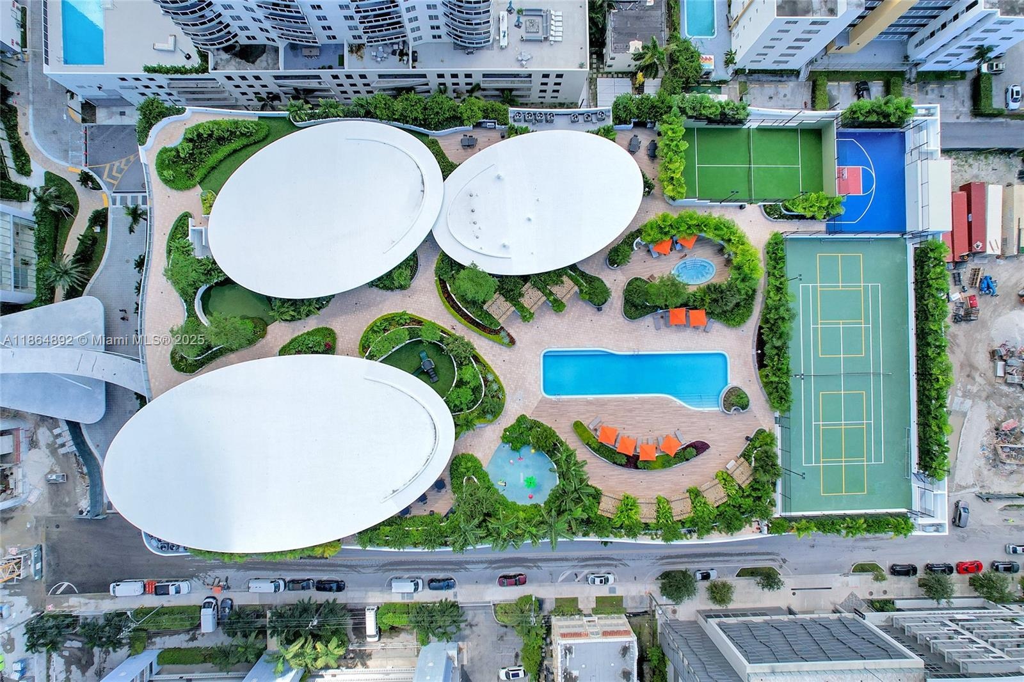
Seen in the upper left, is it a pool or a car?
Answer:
pool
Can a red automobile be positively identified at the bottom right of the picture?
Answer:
Yes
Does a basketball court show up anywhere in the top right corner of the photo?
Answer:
Yes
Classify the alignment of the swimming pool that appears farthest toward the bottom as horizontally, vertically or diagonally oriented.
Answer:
horizontally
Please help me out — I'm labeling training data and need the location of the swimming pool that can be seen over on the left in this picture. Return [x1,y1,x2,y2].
[60,0,106,67]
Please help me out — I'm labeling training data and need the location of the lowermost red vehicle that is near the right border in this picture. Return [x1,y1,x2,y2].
[954,559,983,575]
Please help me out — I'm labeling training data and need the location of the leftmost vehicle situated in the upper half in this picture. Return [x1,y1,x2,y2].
[851,76,870,102]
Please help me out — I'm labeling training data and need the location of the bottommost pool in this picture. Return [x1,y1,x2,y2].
[541,348,730,411]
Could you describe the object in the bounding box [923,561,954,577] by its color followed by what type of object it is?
black car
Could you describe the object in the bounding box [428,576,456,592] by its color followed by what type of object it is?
blue car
